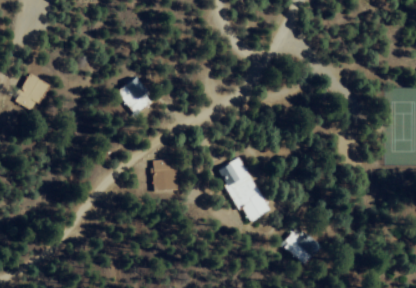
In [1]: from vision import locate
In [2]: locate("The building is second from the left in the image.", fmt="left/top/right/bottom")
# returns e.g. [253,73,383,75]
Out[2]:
[119,78,152,112]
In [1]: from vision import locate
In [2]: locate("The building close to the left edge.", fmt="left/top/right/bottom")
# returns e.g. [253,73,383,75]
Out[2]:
[15,74,50,110]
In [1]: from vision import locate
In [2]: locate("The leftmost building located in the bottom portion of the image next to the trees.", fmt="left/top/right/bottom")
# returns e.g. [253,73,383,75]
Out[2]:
[151,160,178,193]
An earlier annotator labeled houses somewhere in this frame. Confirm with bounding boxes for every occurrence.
[282,231,319,264]
[119,78,152,112]
[15,74,50,110]
[151,160,178,193]
[220,158,270,220]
